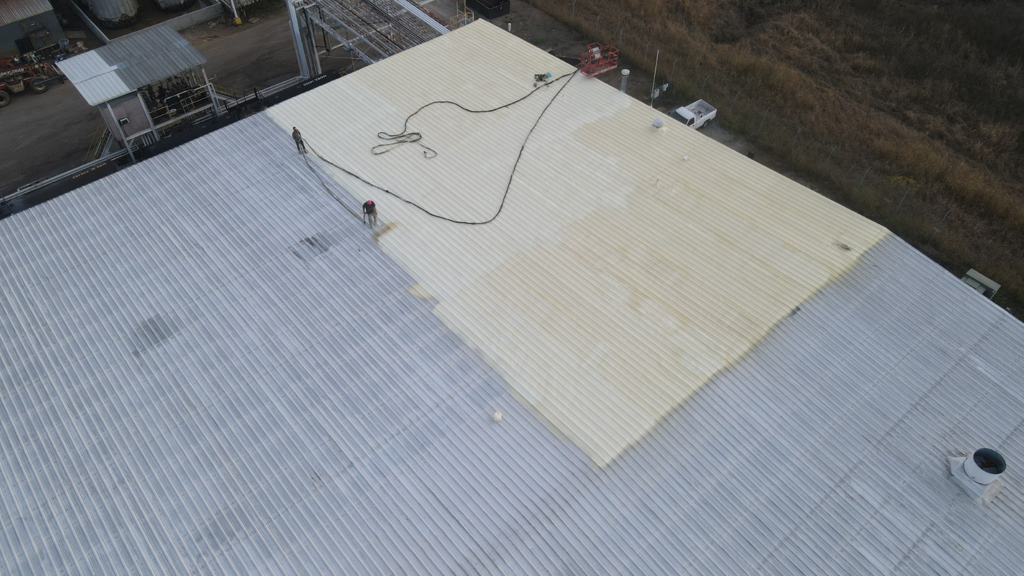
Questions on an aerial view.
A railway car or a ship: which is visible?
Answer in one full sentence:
This aerial view contains a railway car.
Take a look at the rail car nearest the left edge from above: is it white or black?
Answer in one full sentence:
The rail car nearest the left edge looks black in the image.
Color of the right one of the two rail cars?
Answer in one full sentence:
The color of the right one of the two rail cars is black.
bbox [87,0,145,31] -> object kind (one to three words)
storage tank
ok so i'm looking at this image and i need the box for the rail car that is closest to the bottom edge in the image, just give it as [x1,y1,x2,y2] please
[0,158,128,219]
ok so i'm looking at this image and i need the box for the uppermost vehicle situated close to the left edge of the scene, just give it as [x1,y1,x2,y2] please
[0,55,65,107]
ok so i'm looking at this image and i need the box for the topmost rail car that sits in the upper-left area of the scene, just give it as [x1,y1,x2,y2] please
[146,69,340,157]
